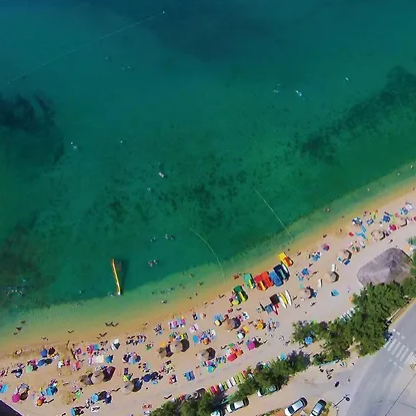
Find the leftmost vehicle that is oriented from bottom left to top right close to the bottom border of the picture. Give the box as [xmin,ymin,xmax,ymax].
[226,396,250,415]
